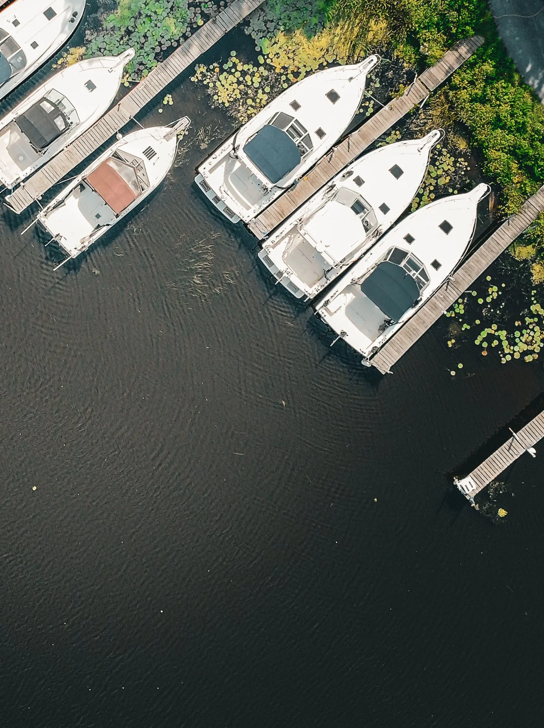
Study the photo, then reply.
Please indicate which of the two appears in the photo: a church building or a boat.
boat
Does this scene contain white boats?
Yes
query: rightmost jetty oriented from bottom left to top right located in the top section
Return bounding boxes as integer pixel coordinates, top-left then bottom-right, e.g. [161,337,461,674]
[371,183,544,374]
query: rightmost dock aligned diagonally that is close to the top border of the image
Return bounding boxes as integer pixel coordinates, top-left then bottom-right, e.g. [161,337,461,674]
[249,31,487,238]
